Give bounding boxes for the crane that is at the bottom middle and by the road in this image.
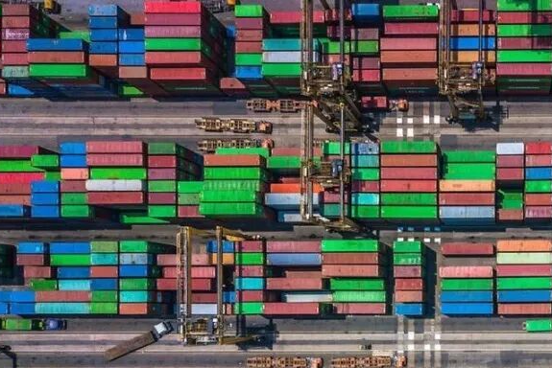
[174,219,265,352]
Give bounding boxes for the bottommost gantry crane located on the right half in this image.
[298,99,372,238]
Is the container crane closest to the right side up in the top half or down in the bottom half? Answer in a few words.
top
